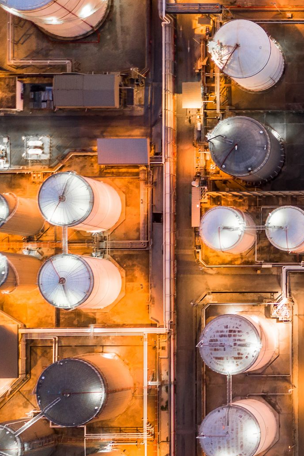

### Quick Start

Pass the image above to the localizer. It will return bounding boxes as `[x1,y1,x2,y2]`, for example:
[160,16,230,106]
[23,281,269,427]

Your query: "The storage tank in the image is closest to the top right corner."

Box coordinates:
[208,19,285,91]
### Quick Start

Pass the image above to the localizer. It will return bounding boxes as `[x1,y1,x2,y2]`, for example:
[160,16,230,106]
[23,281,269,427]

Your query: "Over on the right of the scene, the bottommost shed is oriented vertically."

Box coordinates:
[191,188,205,227]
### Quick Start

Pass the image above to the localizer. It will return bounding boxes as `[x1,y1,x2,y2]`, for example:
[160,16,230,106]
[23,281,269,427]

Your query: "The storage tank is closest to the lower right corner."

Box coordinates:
[197,396,279,456]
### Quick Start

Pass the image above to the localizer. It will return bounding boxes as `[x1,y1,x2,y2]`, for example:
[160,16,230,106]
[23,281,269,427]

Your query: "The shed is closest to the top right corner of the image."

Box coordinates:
[182,82,207,112]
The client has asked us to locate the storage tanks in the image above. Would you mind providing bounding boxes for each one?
[36,352,135,426]
[36,171,125,235]
[197,396,279,456]
[0,193,44,236]
[208,19,285,91]
[36,254,125,311]
[197,311,279,375]
[0,0,108,36]
[202,205,263,255]
[208,115,284,183]
[269,205,304,255]
[0,253,43,293]
[0,415,59,456]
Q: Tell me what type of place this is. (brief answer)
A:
industrial area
